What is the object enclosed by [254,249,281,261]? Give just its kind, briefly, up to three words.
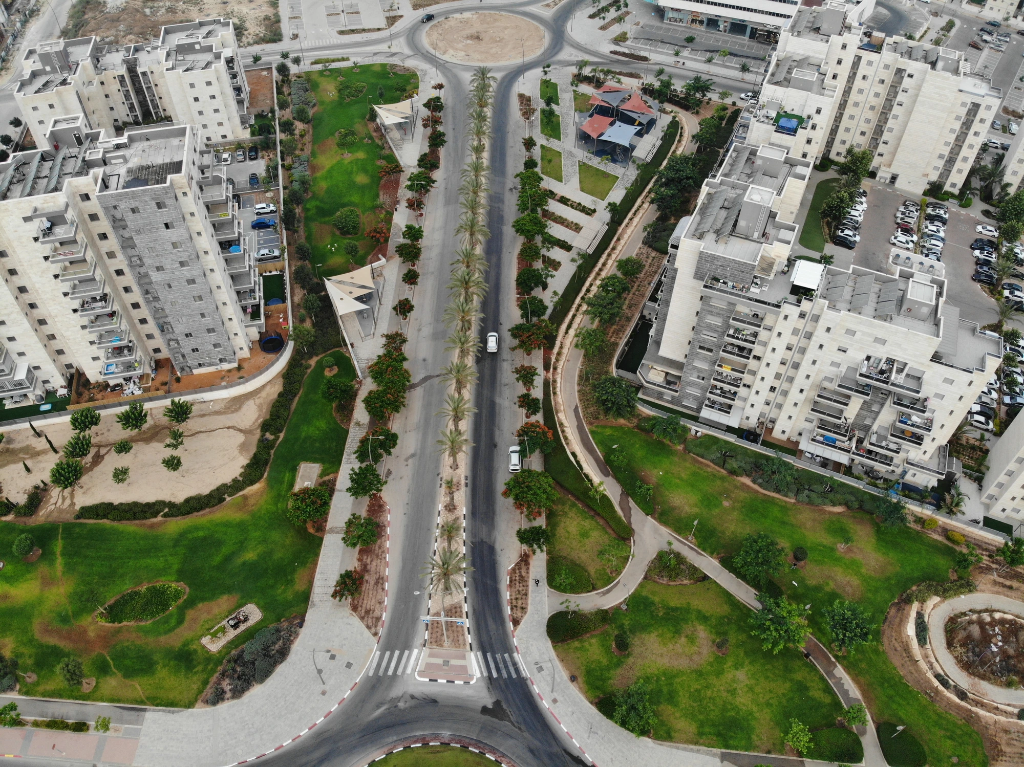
vehicle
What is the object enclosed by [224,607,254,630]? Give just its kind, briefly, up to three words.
work vehicle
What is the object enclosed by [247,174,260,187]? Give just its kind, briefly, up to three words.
vehicle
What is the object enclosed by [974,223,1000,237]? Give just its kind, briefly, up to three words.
car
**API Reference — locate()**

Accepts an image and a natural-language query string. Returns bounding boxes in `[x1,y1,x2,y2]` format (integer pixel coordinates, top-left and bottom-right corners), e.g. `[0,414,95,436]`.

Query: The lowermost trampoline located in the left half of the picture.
[259,328,283,351]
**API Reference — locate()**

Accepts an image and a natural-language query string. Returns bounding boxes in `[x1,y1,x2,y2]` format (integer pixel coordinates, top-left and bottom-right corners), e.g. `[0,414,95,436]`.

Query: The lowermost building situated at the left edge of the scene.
[0,115,263,401]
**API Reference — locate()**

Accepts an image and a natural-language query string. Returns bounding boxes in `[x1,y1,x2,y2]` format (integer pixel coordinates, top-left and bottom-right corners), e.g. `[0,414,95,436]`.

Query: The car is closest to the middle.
[485,333,499,353]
